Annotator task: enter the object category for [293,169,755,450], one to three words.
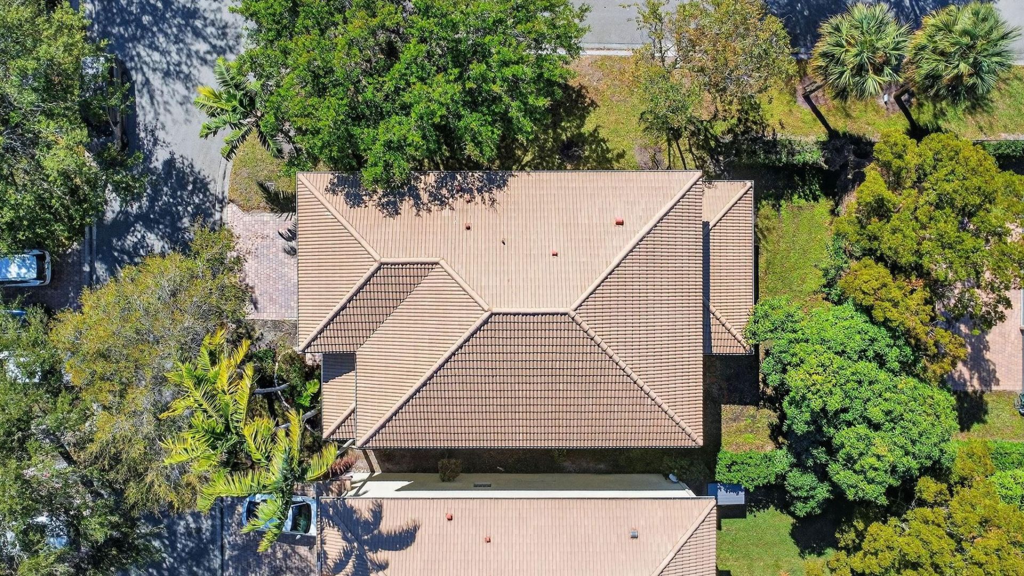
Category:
house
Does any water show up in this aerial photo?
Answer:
No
